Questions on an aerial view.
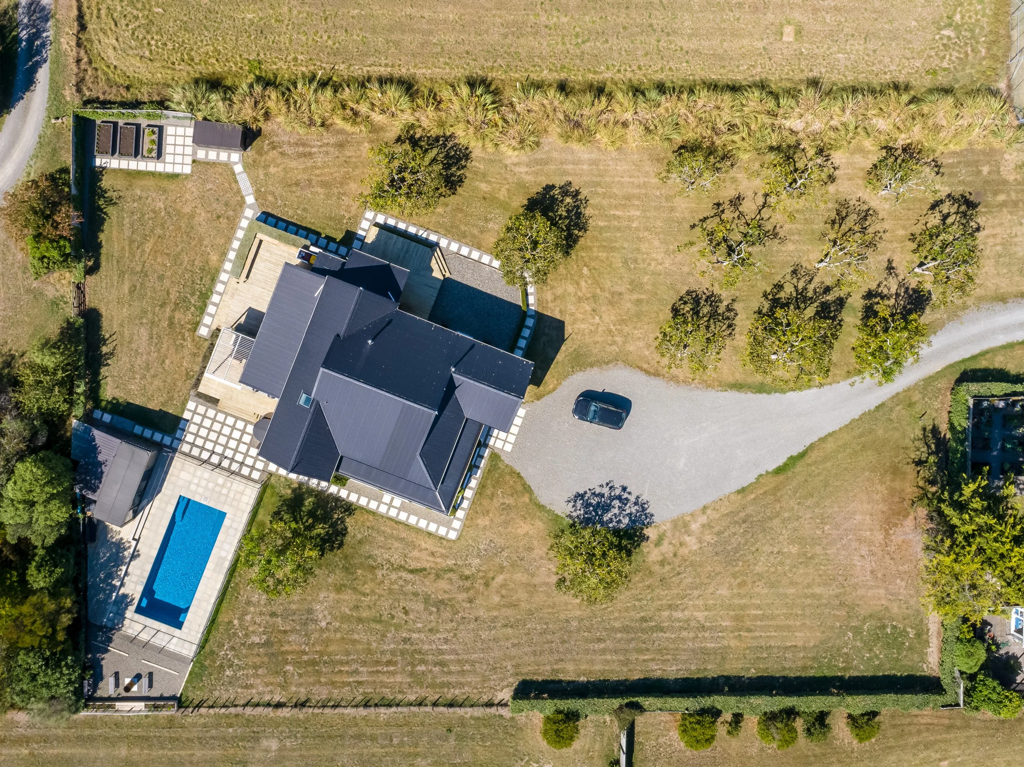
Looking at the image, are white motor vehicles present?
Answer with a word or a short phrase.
No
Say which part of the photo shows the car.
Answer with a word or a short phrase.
center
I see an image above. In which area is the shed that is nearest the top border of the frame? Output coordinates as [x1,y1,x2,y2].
[193,121,253,155]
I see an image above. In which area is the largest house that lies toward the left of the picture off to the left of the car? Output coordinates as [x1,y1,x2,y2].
[239,248,537,518]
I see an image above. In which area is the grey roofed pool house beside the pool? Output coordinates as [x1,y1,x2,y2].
[72,420,162,529]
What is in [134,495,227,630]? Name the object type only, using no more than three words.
swimming pool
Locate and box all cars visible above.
[571,396,628,430]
